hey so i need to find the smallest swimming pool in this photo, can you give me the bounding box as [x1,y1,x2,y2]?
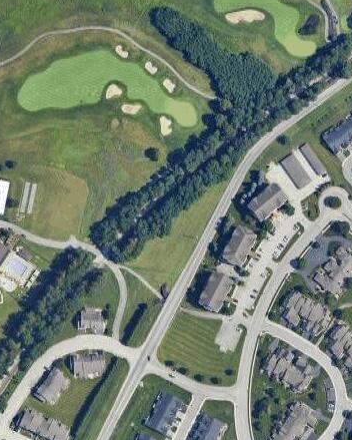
[1,277,17,292]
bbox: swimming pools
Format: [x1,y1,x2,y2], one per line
[0,251,37,287]
[1,277,17,292]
